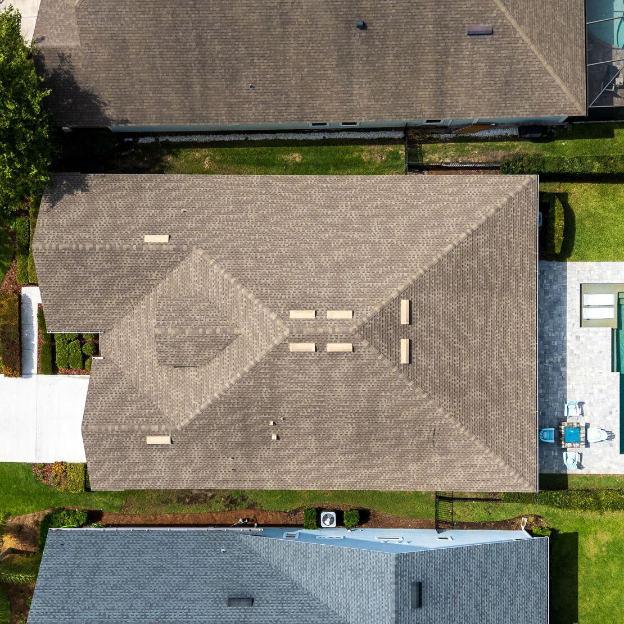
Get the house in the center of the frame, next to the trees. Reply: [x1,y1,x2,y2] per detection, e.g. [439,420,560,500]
[33,172,541,495]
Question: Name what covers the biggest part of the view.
buildings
